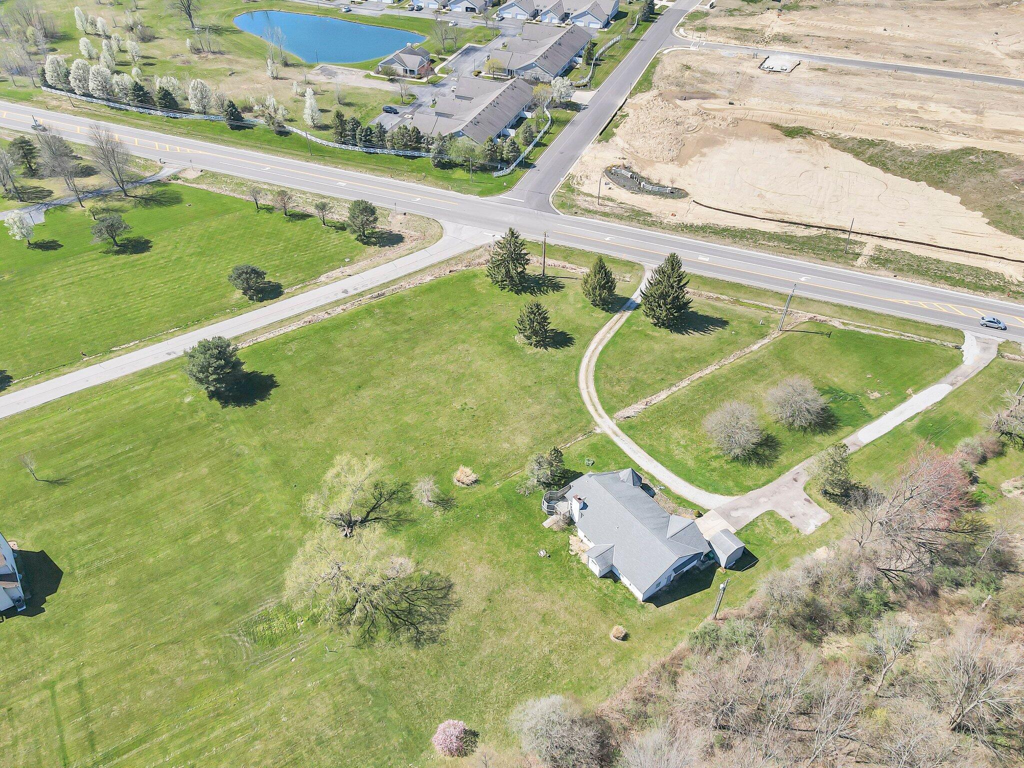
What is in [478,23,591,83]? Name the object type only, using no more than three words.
house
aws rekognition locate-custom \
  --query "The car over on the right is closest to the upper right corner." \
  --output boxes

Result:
[981,315,1008,328]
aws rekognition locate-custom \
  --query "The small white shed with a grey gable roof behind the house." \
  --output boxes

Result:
[709,529,746,567]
